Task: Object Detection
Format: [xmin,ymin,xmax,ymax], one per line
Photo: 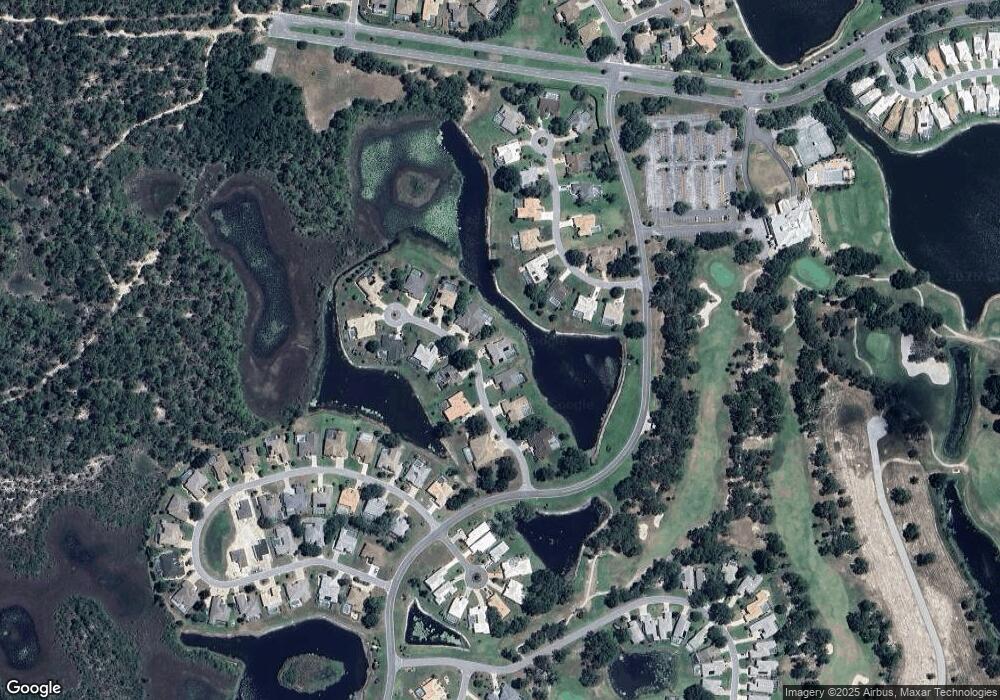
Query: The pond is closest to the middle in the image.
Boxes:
[518,502,603,573]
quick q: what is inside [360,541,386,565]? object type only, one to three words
house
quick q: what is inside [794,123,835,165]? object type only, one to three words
tennis court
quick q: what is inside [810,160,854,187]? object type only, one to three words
swimming pool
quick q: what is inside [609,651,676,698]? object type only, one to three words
pond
